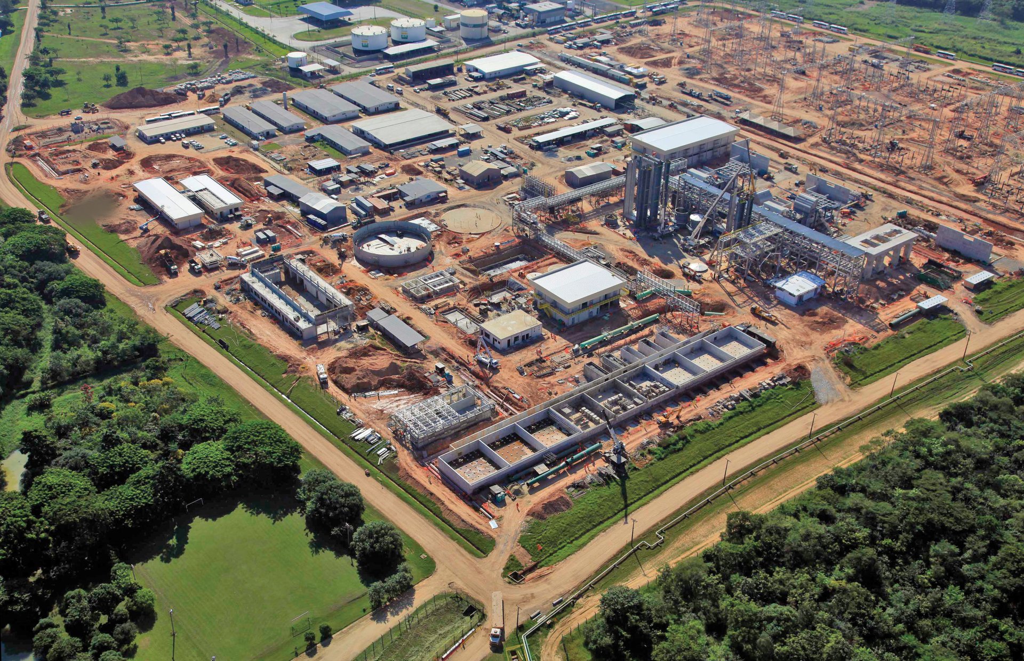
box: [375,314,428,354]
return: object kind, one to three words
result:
shed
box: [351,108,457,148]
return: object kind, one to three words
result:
building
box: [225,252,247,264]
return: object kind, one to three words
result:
vehicle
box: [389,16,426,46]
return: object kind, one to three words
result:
storage tank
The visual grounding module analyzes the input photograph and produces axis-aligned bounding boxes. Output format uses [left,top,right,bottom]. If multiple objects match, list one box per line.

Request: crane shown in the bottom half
[600,410,635,478]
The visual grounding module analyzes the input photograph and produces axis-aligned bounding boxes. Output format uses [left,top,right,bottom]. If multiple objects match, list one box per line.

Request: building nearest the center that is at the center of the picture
[481,310,541,351]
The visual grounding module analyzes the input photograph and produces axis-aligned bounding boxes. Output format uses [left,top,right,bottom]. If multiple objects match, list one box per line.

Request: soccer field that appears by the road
[108,489,397,661]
